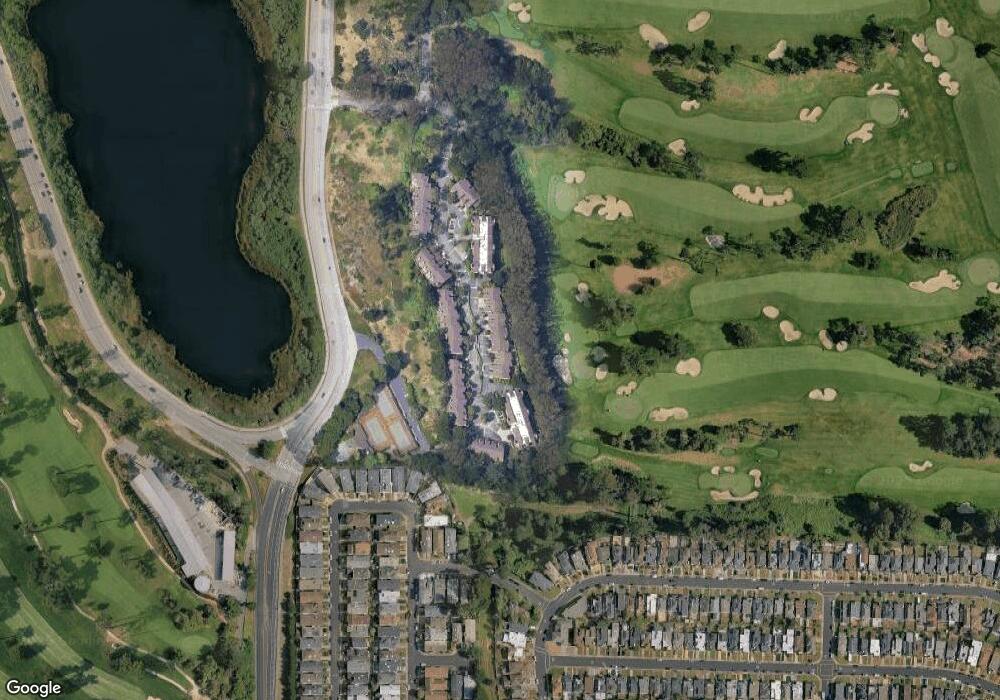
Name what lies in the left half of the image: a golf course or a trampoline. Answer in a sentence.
What appears in the left half of the image is a golf course.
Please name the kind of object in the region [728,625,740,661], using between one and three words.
house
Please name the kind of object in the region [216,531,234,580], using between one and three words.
shed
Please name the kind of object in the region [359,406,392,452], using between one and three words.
tennis court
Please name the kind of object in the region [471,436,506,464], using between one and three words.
building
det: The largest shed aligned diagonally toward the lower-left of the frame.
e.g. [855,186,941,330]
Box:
[131,472,206,583]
